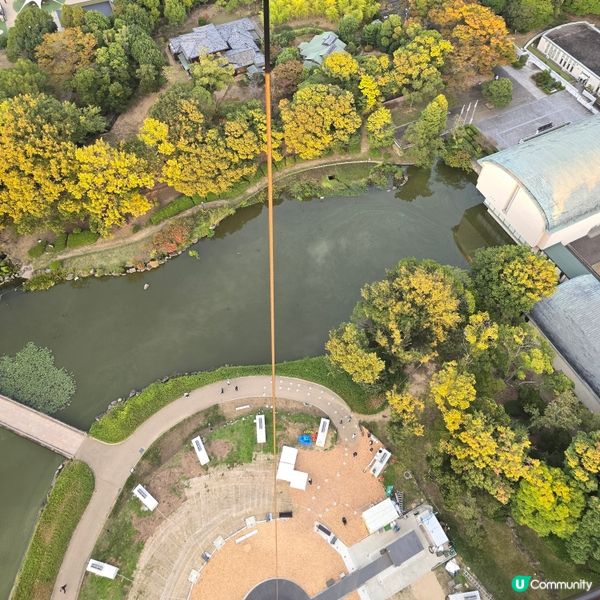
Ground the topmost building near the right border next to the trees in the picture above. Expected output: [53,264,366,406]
[537,22,600,92]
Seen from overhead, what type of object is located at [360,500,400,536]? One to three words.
tent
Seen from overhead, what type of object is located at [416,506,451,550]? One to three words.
building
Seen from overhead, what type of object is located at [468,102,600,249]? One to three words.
building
